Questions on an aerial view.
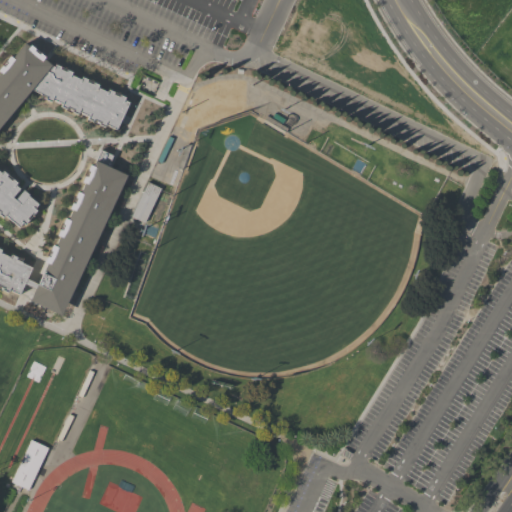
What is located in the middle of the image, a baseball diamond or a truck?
baseball diamond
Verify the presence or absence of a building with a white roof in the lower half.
Yes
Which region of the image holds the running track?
bottom left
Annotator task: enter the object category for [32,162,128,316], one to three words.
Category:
building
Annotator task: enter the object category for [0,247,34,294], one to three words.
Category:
building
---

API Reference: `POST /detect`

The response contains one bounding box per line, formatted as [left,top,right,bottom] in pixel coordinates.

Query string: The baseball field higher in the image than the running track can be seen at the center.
[132,108,422,378]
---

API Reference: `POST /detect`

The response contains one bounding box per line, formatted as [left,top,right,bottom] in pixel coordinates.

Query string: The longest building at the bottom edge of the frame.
[14,440,50,490]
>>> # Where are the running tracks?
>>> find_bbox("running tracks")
[27,426,185,512]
